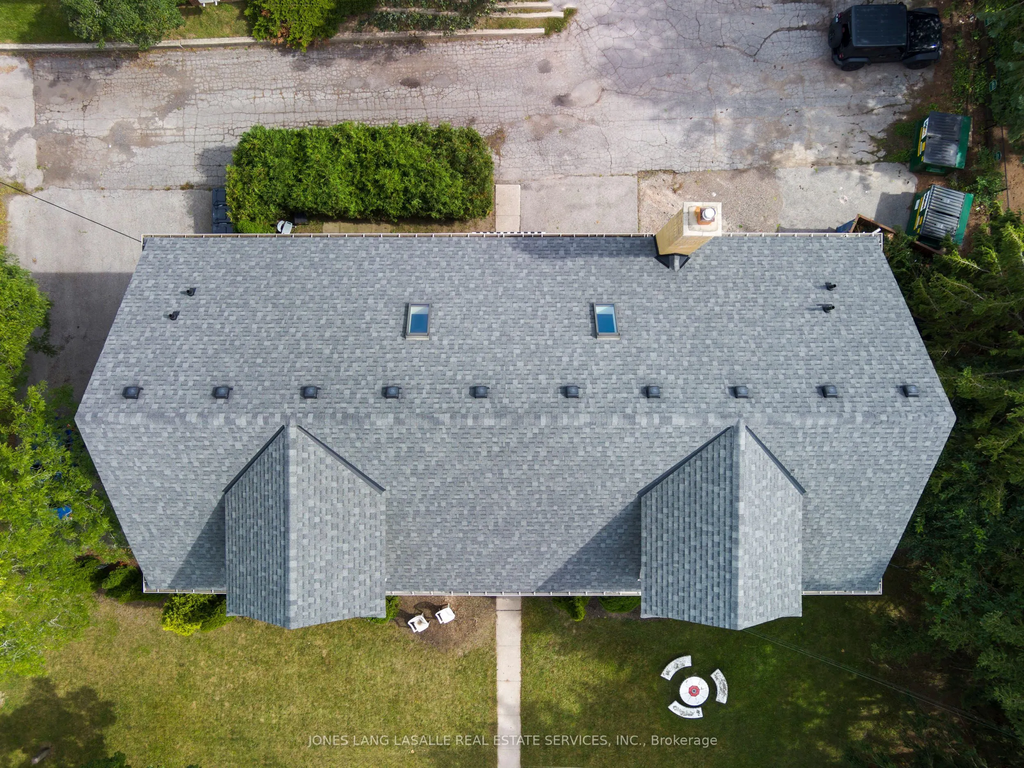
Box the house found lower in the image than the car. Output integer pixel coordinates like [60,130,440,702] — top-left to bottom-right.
[73,202,955,630]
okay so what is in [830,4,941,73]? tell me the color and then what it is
black car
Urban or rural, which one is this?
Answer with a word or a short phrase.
urban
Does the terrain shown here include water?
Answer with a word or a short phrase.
No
